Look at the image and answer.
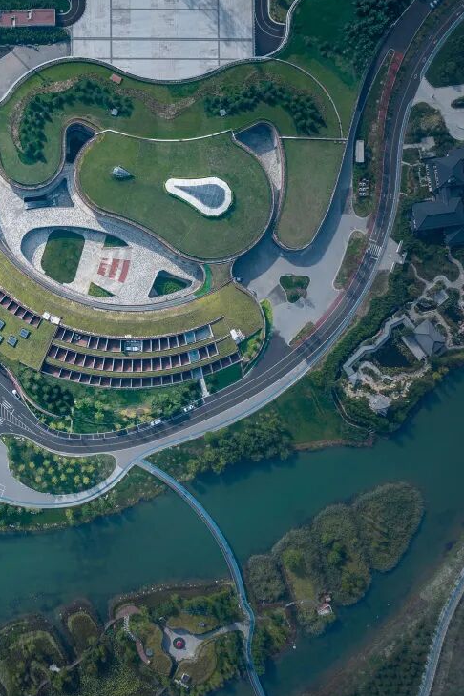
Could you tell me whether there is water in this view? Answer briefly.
Yes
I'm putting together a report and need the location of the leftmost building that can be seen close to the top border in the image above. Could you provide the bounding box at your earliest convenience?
[0,8,56,27]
